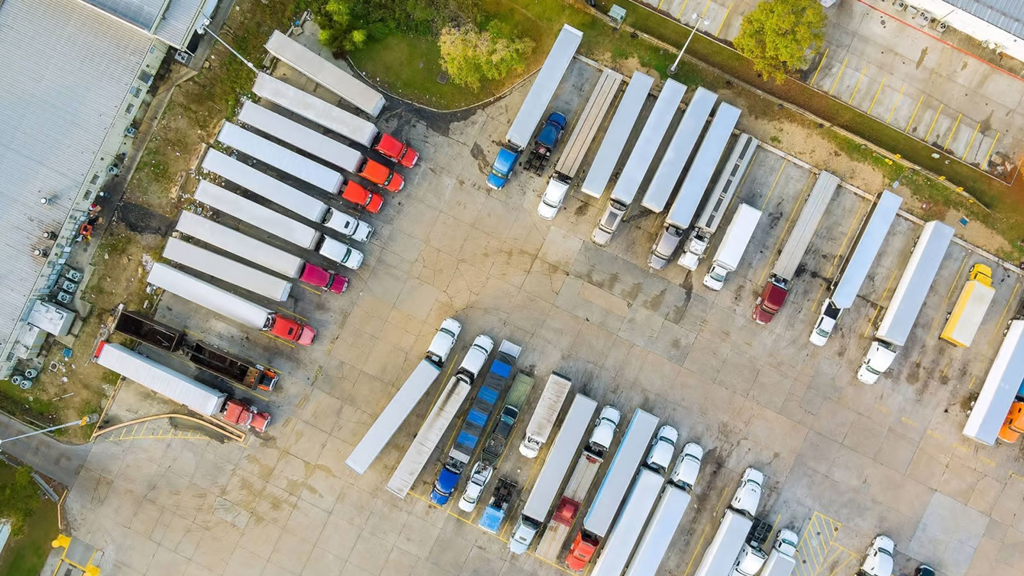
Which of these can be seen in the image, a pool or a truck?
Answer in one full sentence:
Visible in the photo is a truck.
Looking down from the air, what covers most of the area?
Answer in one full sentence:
The scene is dominated by paved ground.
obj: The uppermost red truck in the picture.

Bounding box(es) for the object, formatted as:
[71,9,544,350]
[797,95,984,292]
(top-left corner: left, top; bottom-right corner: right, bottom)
[372,131,419,169]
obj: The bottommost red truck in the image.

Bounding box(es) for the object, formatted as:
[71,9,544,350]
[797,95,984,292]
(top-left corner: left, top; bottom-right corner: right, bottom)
[566,523,599,570]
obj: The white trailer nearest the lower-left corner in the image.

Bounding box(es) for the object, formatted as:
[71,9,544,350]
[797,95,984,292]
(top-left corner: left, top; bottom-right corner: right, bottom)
[97,340,228,415]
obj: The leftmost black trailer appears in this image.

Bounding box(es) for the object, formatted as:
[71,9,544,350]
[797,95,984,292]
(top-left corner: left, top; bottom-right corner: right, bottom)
[114,311,195,351]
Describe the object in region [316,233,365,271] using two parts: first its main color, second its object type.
white truck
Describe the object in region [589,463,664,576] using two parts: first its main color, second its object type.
white trailer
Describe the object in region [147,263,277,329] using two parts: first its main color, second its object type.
white trailer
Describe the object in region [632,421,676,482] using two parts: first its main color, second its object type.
white truck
